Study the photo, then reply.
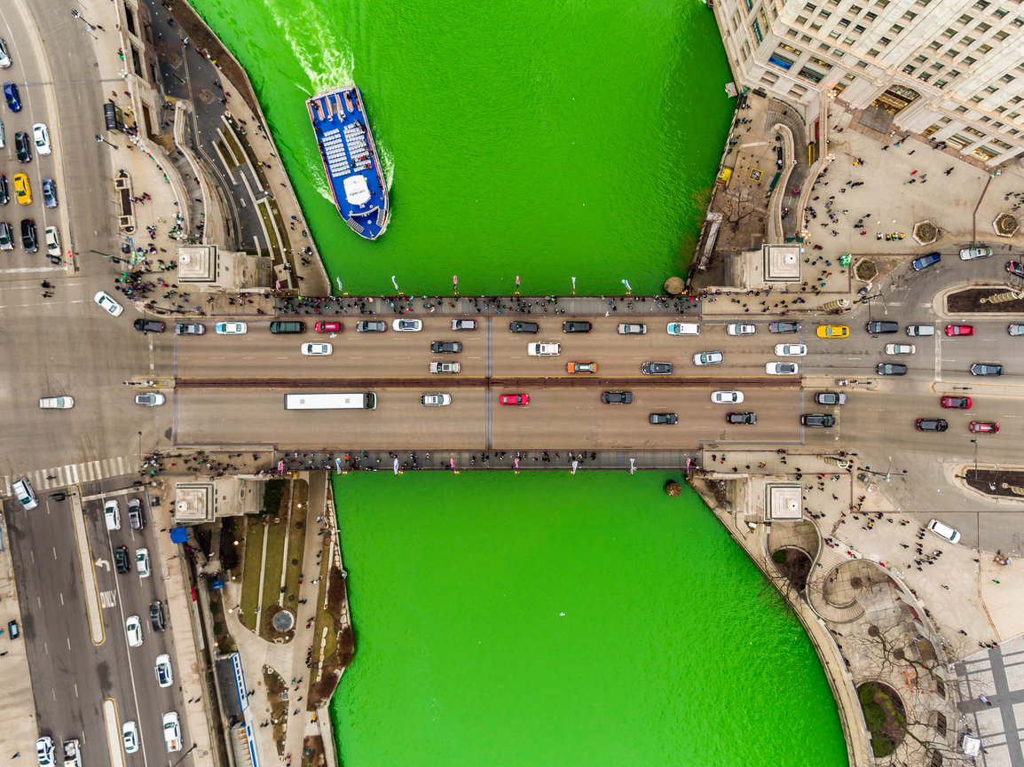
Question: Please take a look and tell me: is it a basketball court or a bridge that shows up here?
bridge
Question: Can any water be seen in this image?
Yes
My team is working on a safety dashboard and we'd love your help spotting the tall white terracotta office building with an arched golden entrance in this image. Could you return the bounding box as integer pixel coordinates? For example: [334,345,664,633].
[722,0,1024,172]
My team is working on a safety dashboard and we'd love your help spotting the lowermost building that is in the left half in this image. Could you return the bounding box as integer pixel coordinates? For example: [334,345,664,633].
[231,706,265,767]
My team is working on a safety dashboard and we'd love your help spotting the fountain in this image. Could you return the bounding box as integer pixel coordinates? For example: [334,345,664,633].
[272,610,294,633]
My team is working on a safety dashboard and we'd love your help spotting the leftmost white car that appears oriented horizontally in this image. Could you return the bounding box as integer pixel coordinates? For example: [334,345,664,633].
[40,395,74,410]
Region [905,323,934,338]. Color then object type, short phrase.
white car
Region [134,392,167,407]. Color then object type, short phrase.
gray car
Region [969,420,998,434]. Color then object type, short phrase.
red car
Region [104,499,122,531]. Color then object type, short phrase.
white car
